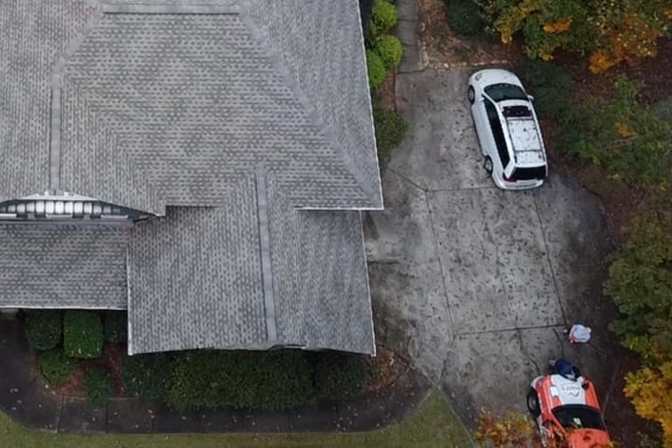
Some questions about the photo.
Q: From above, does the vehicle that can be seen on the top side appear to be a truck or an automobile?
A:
automobile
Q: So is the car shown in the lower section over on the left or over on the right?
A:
right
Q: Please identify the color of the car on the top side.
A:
white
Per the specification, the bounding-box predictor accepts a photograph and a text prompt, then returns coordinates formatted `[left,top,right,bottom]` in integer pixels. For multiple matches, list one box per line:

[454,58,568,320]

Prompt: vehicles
[470,68,549,188]
[526,369,615,448]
